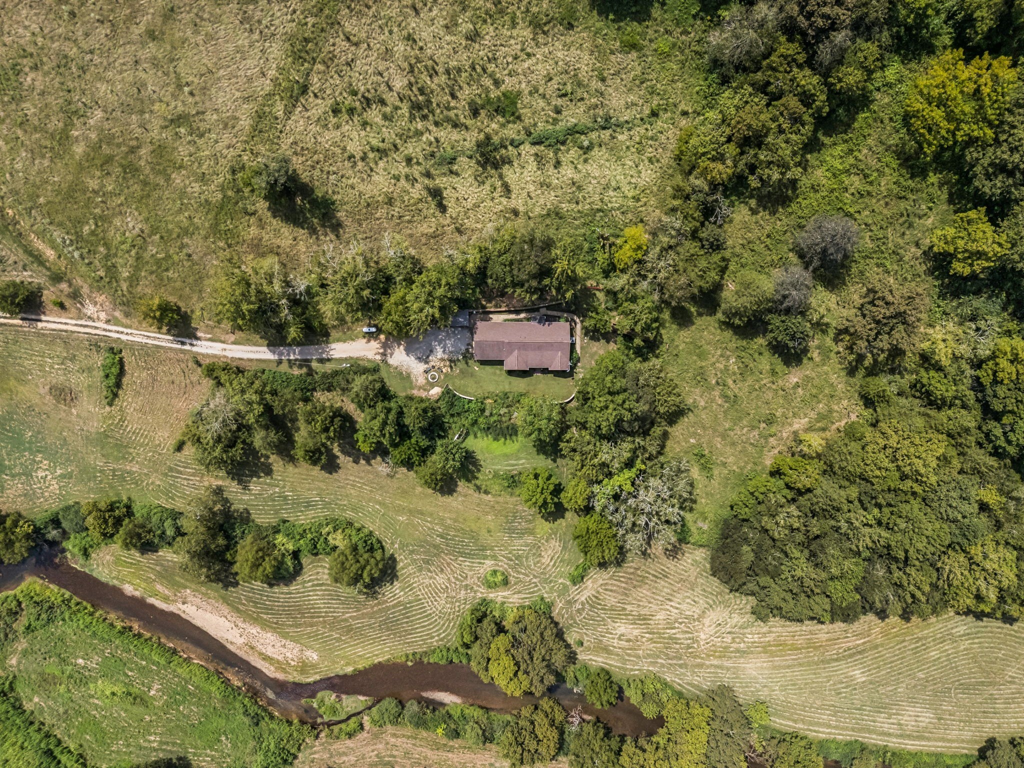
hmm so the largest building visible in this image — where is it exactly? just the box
[473,316,571,373]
